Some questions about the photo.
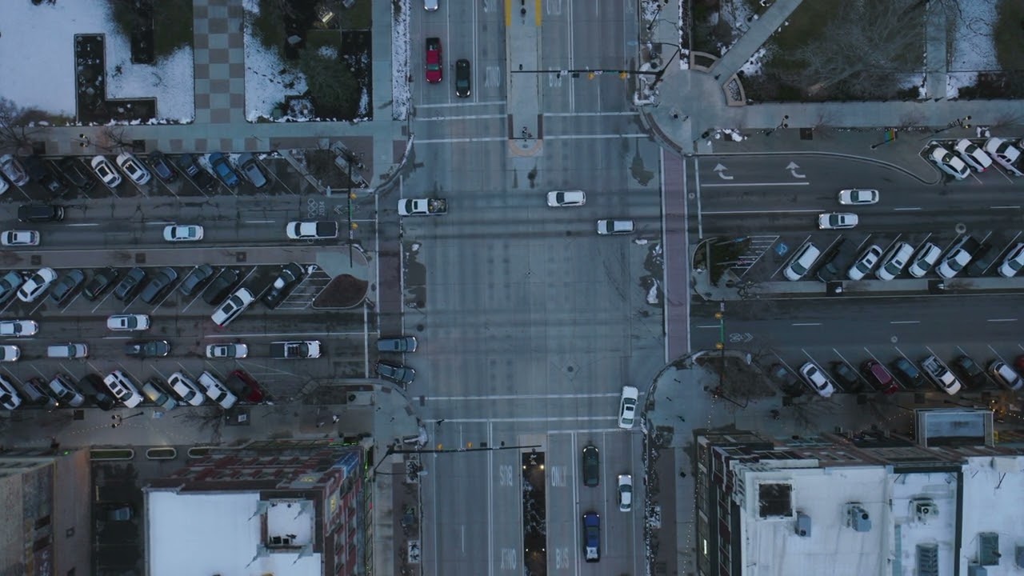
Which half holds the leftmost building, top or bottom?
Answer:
bottom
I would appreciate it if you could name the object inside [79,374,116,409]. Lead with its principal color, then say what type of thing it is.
black car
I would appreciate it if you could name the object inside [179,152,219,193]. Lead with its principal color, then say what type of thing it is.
black truck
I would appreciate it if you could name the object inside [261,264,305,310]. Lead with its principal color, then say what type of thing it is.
black truck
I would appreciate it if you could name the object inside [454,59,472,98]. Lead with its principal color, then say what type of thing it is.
black car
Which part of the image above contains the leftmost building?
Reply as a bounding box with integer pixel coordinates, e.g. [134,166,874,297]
[0,445,90,576]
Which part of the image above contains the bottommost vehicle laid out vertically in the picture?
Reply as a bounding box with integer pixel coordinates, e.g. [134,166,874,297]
[582,512,602,562]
